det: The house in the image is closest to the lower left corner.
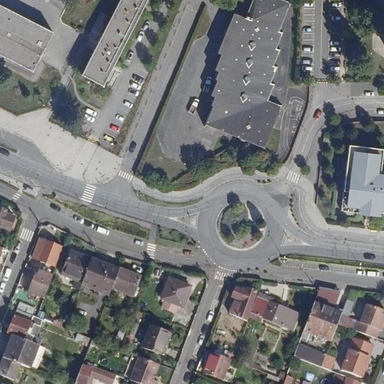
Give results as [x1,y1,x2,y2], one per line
[0,356,26,382]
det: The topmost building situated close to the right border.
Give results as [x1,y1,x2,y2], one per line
[342,144,384,216]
